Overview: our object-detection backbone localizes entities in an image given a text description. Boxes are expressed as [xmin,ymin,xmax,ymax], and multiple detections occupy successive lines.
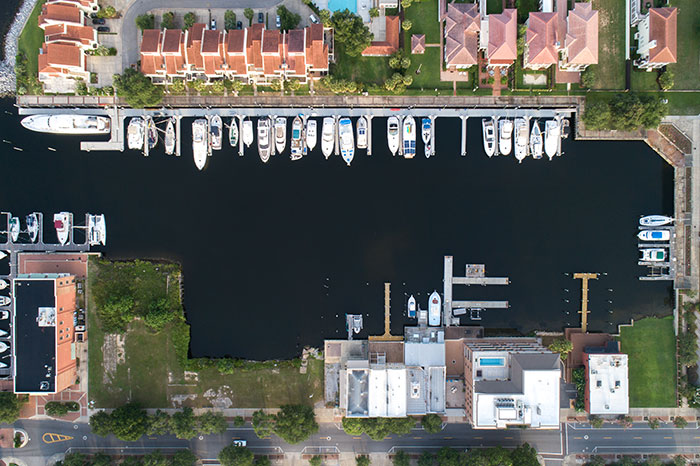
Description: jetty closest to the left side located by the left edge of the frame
[0,212,92,279]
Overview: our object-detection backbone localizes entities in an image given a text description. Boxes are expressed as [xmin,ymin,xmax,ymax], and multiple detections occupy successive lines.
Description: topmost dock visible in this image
[19,103,577,156]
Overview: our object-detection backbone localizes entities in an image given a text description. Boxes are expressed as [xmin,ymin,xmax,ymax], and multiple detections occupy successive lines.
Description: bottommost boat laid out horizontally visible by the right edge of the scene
[638,248,667,261]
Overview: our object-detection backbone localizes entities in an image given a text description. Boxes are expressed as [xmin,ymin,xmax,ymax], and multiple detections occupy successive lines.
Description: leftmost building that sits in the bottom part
[12,270,77,396]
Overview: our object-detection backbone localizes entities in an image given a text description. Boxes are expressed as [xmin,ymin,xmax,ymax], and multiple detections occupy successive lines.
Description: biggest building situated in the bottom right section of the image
[465,342,561,428]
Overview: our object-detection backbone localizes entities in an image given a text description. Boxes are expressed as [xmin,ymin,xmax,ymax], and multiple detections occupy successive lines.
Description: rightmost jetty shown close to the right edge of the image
[636,226,673,282]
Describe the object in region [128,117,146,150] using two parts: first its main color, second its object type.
white boat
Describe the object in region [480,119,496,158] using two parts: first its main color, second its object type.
white boat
